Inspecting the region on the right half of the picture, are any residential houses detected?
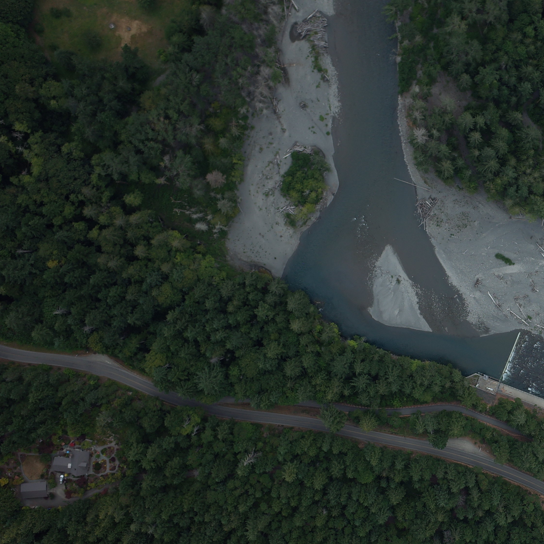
No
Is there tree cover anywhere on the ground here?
Yes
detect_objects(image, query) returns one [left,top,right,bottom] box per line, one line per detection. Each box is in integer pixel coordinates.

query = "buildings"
[51,447,91,476]
[19,481,49,498]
